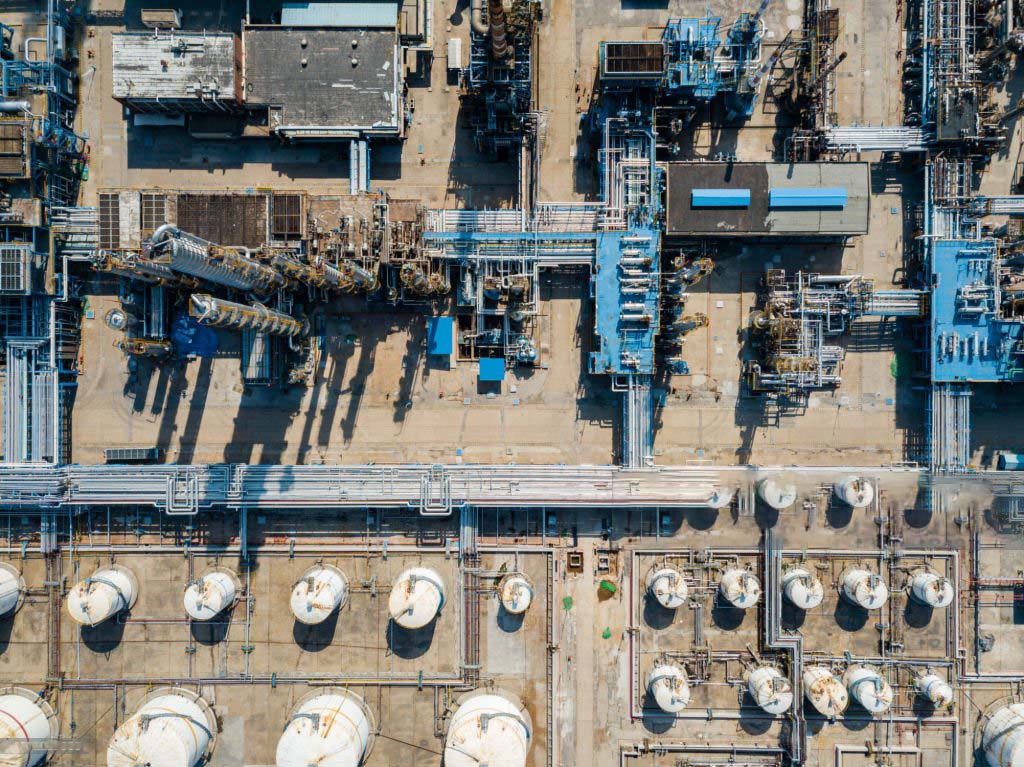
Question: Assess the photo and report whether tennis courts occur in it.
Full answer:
No, no tennis court can be seen from above.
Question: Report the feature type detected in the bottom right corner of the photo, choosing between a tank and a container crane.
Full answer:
It is a tank that can be seen in the bottom right corner of the photo.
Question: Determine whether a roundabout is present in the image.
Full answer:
No, the scene contains no roundabout.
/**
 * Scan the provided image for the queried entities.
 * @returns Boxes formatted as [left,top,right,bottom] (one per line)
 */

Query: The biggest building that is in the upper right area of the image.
[660,163,869,241]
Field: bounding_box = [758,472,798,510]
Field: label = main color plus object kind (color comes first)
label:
white storage tank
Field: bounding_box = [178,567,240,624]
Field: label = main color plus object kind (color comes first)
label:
white storage tank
